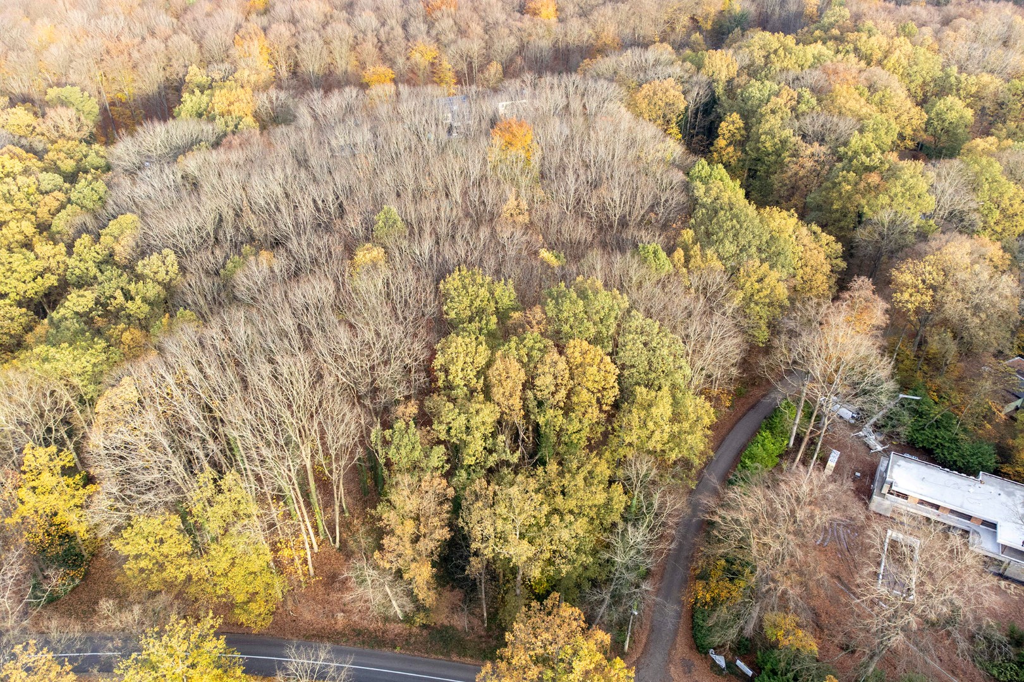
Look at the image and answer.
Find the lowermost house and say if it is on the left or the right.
right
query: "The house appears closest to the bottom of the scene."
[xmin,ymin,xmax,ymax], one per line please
[868,452,1024,579]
